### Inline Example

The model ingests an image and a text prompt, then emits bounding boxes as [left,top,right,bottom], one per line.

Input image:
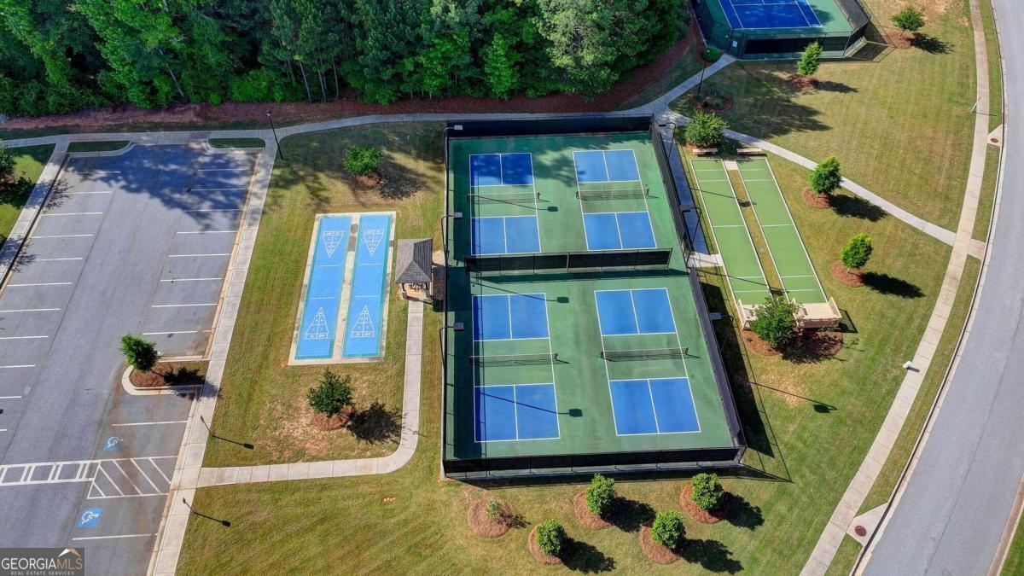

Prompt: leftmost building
[394,238,445,302]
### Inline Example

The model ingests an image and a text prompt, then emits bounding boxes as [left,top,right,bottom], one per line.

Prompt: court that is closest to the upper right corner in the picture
[689,0,864,60]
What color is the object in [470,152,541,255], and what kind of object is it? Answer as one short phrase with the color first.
blue sports court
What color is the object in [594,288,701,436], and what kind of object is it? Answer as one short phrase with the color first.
blue sports court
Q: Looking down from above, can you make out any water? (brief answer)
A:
No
